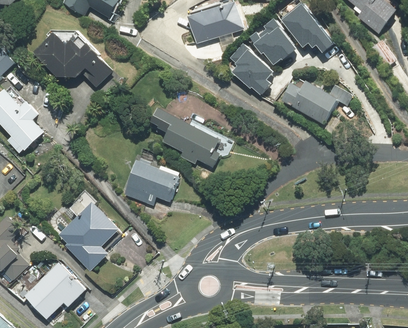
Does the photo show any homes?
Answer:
Yes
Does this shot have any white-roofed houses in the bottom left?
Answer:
Yes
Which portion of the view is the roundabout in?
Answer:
bottom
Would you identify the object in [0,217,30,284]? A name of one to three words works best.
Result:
house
